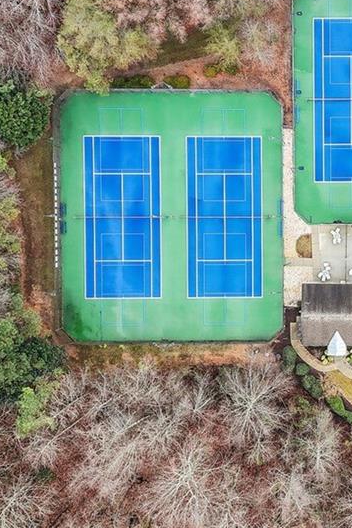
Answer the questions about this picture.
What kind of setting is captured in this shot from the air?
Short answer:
sports ground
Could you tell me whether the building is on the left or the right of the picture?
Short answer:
right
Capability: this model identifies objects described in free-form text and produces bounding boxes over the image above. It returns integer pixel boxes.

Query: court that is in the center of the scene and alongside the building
[63,92,282,341]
